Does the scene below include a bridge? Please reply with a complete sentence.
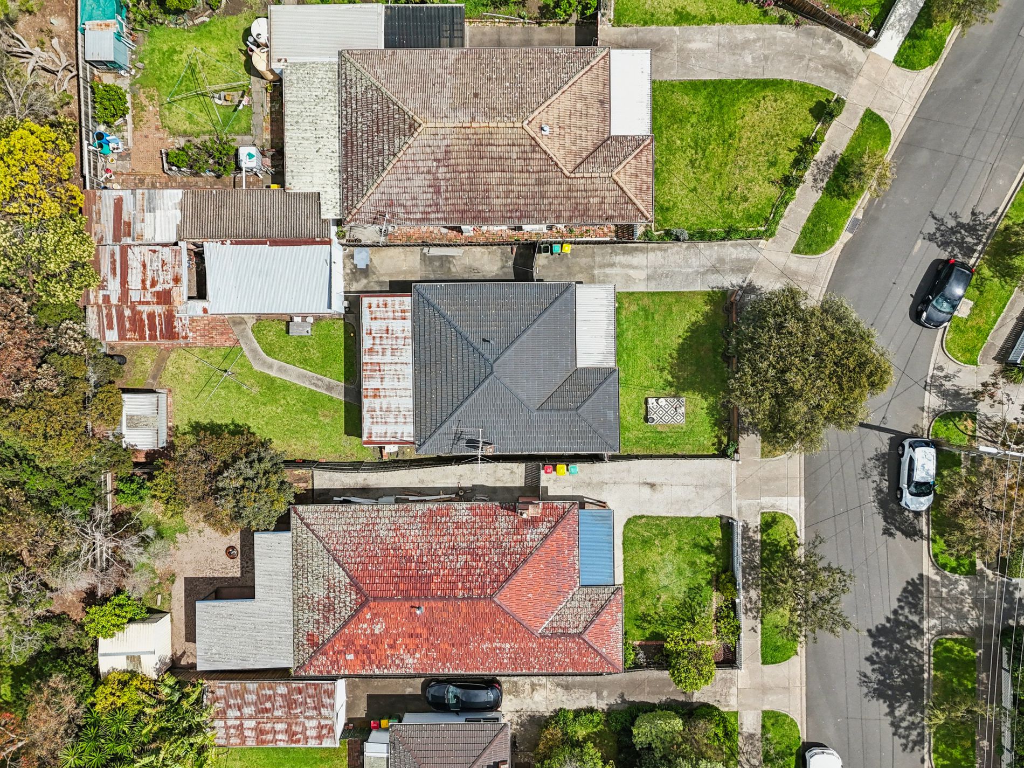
No, I can see no bridge in this picture.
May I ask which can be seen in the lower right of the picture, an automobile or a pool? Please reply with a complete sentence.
There is an automobile in the lower right of the picture.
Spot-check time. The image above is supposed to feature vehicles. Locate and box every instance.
[425,677,502,718]
[918,256,979,327]
[897,438,939,509]
[803,746,839,768]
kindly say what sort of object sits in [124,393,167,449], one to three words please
shed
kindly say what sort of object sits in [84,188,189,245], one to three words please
shed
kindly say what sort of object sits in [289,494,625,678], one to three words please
house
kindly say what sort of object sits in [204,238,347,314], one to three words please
building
